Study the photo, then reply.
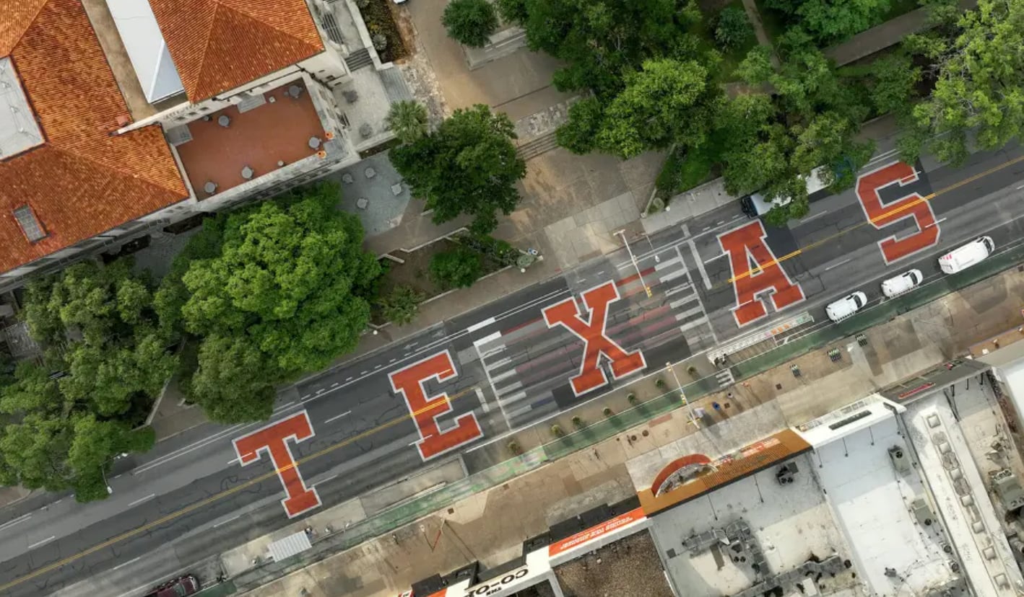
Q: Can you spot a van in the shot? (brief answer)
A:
Yes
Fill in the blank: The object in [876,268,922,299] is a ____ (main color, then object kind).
white van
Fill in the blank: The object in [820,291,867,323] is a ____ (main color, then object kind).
white van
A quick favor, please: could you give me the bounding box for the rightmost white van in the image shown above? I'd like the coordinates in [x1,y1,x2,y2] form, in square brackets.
[929,235,993,275]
